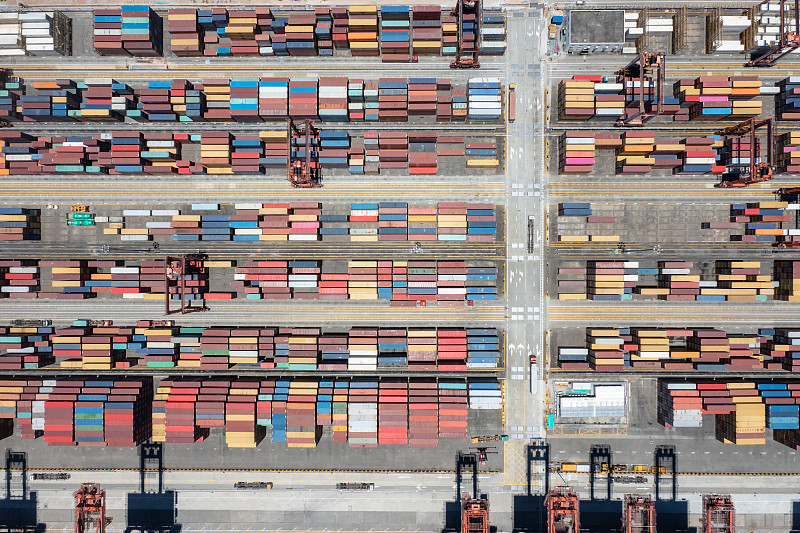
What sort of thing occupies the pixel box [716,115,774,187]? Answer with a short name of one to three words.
container crane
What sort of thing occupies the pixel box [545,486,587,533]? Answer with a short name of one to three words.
container crane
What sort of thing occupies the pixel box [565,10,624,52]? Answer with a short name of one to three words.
building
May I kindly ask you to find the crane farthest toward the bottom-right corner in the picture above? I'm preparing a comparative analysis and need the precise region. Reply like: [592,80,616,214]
[701,495,738,533]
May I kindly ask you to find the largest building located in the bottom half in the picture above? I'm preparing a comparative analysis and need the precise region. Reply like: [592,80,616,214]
[555,380,624,417]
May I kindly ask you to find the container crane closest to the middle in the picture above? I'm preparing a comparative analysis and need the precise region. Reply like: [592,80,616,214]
[288,116,323,187]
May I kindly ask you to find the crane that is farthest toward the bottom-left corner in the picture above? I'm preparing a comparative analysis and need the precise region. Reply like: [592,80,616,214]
[71,484,124,533]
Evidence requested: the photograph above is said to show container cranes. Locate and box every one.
[450,0,482,66]
[622,494,659,533]
[288,116,323,187]
[165,252,210,318]
[71,484,124,533]
[745,0,800,65]
[716,115,774,187]
[545,486,587,533]
[616,48,661,126]
[457,488,501,533]
[701,495,738,533]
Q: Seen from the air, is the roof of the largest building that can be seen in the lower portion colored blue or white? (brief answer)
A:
white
